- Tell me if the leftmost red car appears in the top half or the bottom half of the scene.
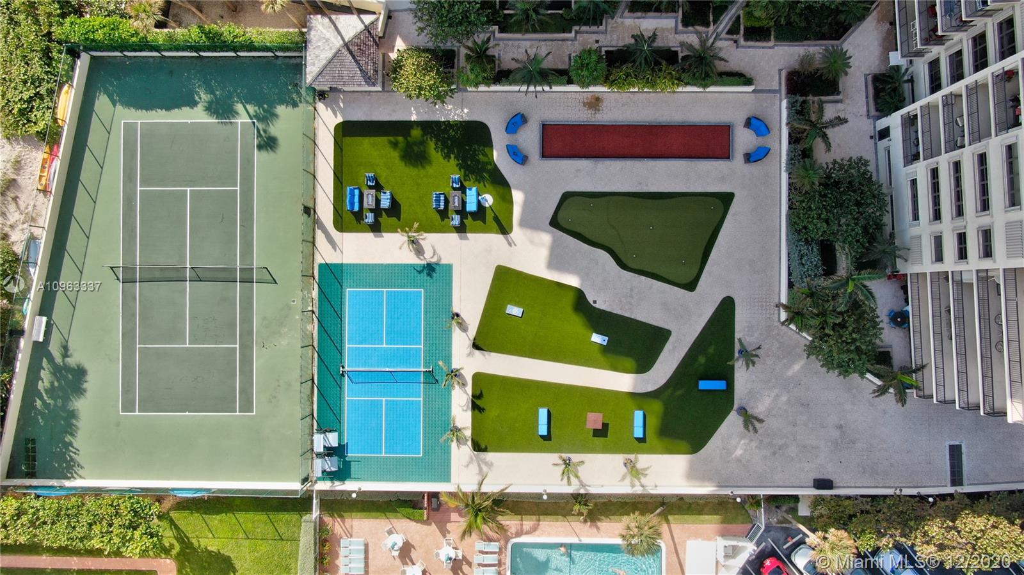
bottom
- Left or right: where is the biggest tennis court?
left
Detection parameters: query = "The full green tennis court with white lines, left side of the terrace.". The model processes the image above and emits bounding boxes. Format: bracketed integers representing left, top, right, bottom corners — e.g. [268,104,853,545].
[6,55,313,481]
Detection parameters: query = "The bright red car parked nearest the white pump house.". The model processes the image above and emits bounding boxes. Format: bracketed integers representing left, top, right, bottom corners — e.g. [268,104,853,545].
[755,552,790,575]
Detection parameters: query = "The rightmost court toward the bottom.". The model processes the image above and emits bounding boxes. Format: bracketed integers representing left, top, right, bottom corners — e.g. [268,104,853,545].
[316,263,452,482]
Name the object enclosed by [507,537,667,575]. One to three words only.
swimming pool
